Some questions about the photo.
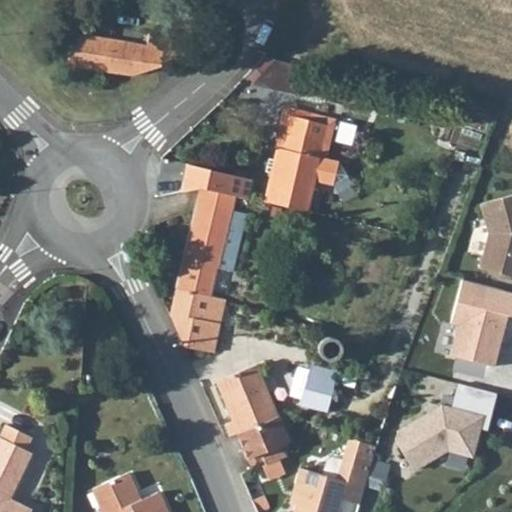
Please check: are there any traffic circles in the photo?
Yes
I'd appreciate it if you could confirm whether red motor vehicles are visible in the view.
No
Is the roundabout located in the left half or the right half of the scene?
left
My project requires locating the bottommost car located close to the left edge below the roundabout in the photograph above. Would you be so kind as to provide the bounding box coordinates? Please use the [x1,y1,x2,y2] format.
[12,414,36,430]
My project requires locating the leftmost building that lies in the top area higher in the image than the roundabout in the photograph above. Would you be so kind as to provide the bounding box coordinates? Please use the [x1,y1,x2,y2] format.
[68,36,164,76]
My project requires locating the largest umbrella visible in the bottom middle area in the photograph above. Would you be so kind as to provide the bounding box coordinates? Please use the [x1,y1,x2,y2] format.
[274,387,288,400]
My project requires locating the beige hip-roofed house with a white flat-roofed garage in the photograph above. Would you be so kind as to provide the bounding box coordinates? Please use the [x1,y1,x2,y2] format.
[396,384,498,472]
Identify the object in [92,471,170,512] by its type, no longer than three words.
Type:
house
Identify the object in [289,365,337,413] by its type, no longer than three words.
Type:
building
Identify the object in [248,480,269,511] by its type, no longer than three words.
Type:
shed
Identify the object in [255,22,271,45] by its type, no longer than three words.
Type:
car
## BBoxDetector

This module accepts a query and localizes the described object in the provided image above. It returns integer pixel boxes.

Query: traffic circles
[13,128,150,280]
